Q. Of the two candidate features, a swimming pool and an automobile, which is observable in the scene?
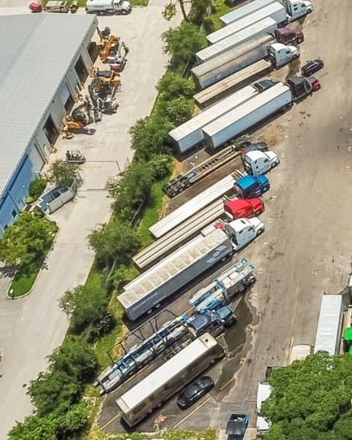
automobile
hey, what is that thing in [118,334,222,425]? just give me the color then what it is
white bus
